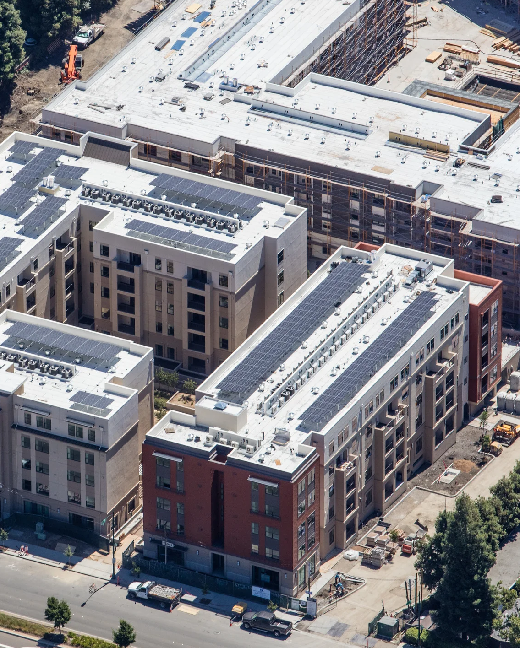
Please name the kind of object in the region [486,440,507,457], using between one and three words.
work vehicle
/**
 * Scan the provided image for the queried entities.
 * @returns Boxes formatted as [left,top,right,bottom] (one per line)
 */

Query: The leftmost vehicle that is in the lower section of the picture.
[121,576,183,609]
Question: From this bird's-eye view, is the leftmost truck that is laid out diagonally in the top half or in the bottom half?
top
